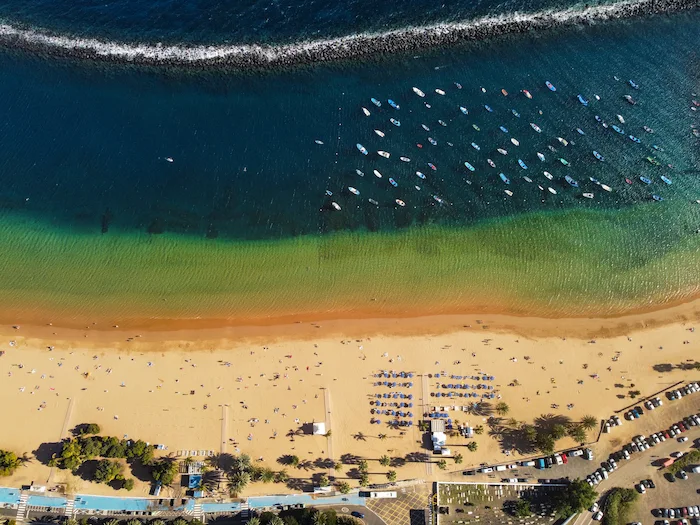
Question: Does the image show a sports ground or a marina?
marina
